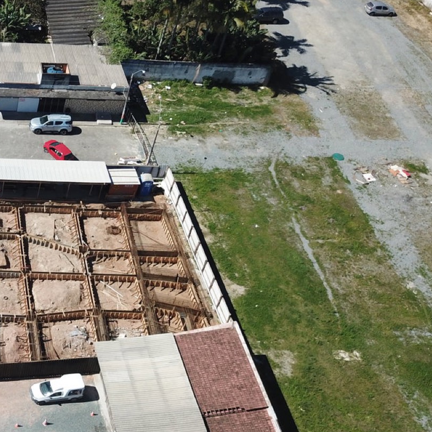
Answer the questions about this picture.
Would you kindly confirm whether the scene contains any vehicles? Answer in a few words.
Yes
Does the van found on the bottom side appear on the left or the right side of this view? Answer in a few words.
left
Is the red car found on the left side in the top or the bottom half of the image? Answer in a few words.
top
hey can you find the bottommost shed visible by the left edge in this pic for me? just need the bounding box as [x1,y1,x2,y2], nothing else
[0,160,112,203]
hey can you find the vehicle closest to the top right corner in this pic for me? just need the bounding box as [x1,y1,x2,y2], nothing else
[365,0,398,15]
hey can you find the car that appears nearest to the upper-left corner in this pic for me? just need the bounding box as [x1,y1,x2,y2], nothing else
[30,112,74,133]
